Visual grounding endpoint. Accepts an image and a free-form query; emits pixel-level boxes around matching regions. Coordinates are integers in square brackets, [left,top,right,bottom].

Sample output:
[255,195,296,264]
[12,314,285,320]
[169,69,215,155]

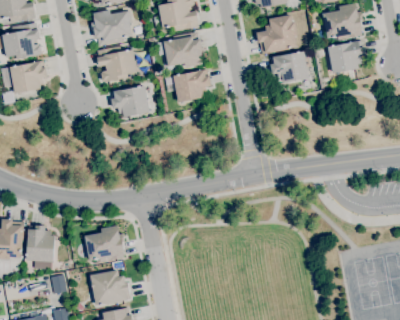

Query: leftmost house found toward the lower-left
[0,220,26,260]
